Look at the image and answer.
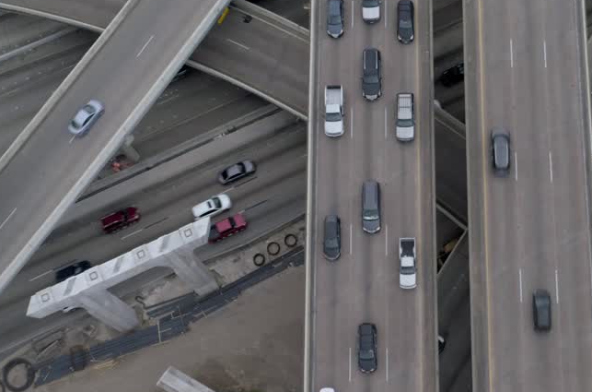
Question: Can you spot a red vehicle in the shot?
Yes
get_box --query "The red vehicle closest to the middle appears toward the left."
[210,209,249,243]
